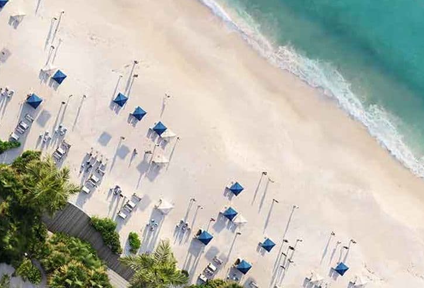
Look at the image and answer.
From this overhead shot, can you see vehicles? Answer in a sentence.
No, I find no vehicle anywhere in the image.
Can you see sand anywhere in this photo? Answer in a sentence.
Yes, there's sand in this view.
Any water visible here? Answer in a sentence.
Yes, there is water in the image.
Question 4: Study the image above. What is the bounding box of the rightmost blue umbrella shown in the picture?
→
[333,261,349,277]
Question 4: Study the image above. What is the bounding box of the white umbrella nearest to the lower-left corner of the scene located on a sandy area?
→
[155,197,172,215]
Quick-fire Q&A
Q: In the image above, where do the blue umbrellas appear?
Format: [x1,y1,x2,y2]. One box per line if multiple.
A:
[26,93,42,108]
[131,105,146,121]
[221,204,237,221]
[111,93,128,108]
[196,229,213,245]
[333,261,349,277]
[235,258,251,275]
[52,68,67,85]
[152,121,167,137]
[259,236,275,253]
[228,181,243,196]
